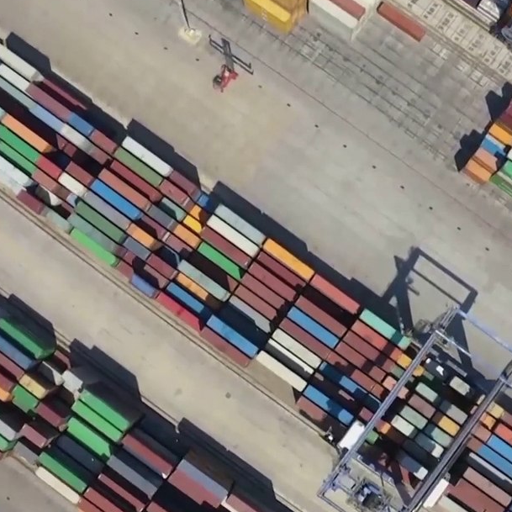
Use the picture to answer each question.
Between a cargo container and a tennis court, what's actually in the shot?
cargo container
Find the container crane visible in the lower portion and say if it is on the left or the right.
right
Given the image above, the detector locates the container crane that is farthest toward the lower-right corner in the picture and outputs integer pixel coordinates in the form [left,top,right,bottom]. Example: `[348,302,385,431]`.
[319,306,512,512]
